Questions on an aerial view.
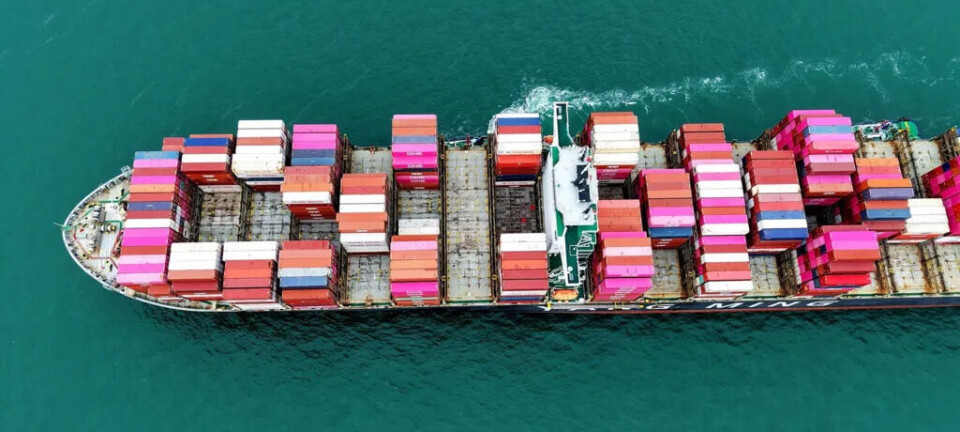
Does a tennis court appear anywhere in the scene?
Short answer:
No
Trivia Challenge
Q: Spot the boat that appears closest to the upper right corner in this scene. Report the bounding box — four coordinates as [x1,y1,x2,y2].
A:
[851,119,921,140]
